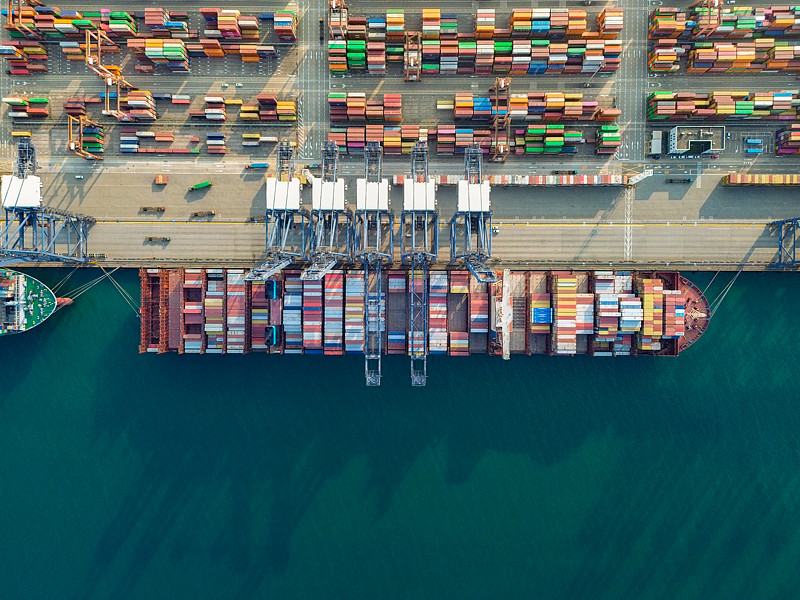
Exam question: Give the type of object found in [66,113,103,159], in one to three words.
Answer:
container crane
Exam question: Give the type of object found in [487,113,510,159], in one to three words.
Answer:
container crane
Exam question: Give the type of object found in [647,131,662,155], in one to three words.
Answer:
building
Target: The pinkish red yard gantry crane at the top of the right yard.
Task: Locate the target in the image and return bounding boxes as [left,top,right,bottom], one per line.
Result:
[686,0,722,41]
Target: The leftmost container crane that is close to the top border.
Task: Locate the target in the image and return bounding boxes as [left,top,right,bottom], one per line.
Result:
[7,0,47,41]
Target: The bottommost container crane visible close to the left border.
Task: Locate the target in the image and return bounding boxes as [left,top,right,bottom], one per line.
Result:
[0,137,104,267]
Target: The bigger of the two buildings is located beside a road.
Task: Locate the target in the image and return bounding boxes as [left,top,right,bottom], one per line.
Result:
[669,126,725,154]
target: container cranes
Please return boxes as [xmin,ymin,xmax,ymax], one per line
[402,30,421,80]
[7,0,47,41]
[686,0,722,41]
[441,139,507,281]
[0,137,104,267]
[395,139,442,387]
[86,28,121,79]
[354,138,398,387]
[66,113,103,159]
[297,138,357,280]
[487,113,510,159]
[487,74,510,123]
[105,74,139,123]
[238,138,319,280]
[328,0,349,41]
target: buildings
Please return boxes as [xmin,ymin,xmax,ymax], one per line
[647,131,662,155]
[669,126,725,154]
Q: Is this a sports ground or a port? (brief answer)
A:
port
